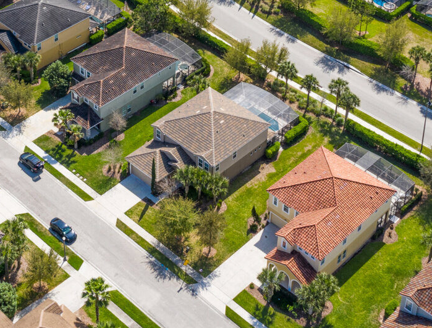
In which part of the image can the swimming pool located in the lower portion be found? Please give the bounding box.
[379,196,408,228]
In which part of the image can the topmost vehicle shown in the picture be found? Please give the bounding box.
[17,150,46,174]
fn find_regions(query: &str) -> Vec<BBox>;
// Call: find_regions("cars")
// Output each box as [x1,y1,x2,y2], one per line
[17,150,46,174]
[48,216,77,242]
